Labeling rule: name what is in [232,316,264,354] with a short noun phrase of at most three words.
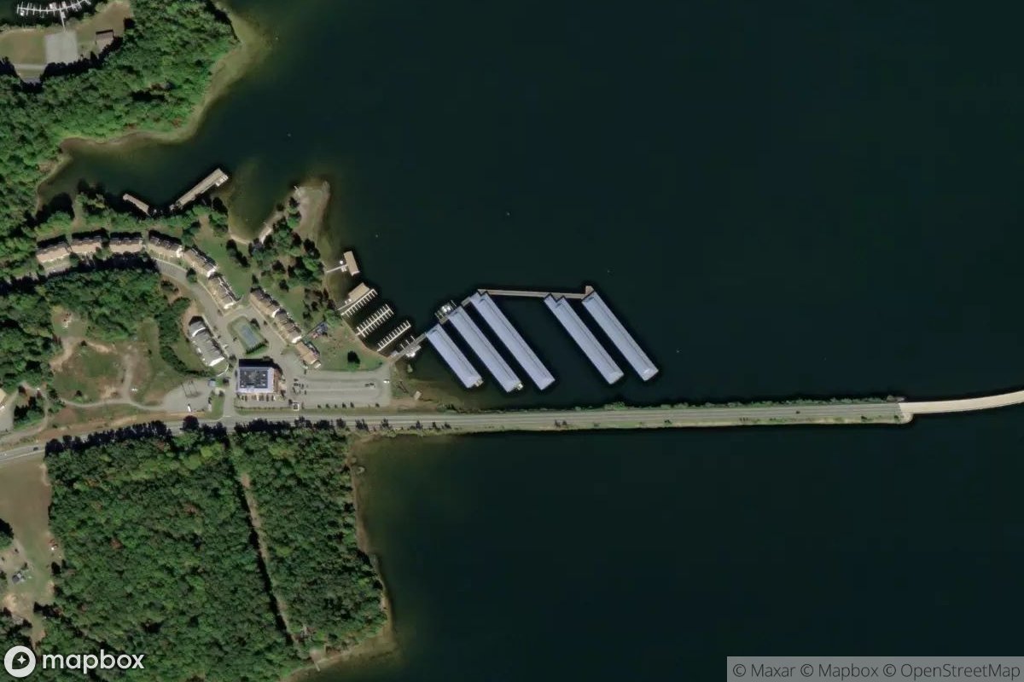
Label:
sports court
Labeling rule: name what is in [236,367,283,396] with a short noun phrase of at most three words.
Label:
building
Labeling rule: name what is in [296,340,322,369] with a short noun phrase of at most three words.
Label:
building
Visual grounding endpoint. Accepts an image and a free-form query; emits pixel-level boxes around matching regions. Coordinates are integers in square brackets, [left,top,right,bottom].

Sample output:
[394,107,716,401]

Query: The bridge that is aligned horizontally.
[899,390,1024,415]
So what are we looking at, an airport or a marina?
marina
